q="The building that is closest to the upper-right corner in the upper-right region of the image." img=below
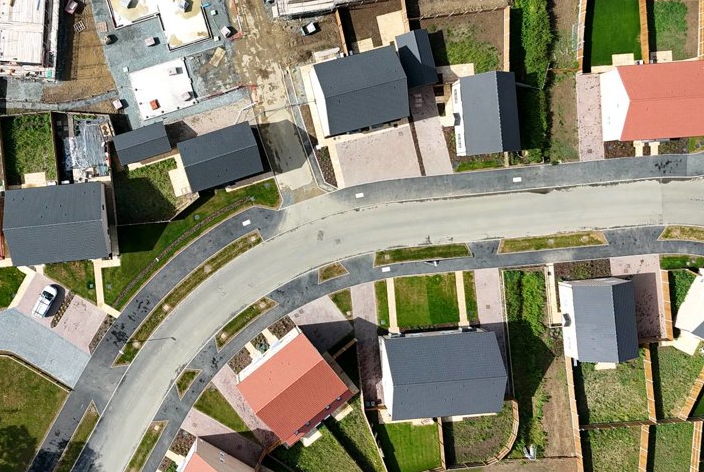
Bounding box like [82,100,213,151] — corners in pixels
[600,60,704,142]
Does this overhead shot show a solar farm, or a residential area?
residential area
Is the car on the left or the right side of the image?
left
